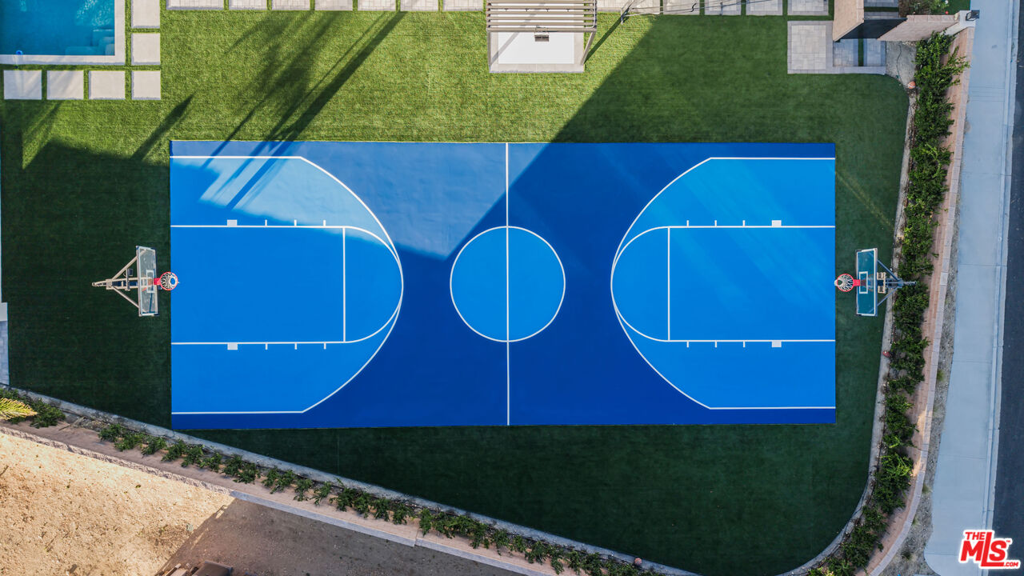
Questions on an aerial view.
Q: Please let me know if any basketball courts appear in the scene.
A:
Yes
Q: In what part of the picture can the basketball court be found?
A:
center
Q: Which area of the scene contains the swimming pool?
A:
top left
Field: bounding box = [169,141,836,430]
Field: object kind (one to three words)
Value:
basketball court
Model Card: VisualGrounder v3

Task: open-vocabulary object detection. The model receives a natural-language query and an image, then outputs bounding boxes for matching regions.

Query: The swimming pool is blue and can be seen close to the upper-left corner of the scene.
[0,0,127,66]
